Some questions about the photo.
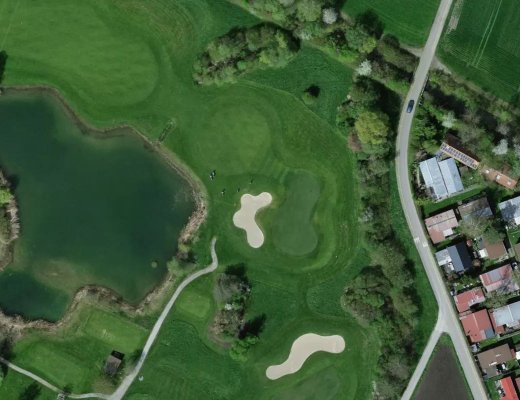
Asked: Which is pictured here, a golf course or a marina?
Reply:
golf course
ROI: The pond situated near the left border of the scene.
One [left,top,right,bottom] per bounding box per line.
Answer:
[0,99,182,311]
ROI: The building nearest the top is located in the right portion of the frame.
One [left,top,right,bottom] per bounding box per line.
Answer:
[437,135,483,171]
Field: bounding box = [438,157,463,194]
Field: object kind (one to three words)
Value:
building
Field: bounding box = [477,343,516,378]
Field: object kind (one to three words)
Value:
house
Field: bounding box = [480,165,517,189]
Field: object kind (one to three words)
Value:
shed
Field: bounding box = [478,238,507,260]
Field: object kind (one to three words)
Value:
house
